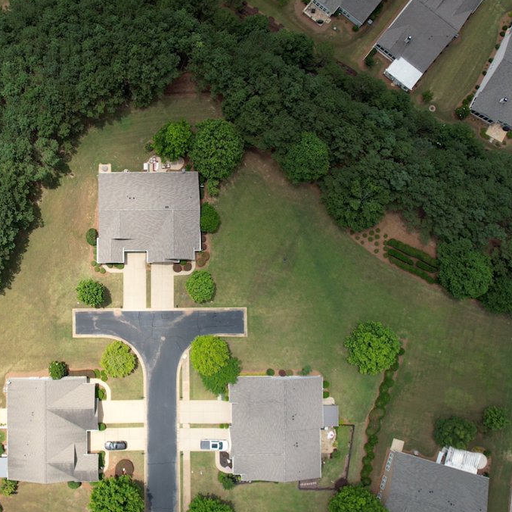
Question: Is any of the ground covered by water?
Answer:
No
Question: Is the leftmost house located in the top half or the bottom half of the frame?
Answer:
bottom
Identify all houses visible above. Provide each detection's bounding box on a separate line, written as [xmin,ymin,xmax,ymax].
[312,0,383,25]
[229,376,338,484]
[375,0,482,92]
[97,173,201,264]
[468,27,512,130]
[381,445,493,512]
[0,377,99,486]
